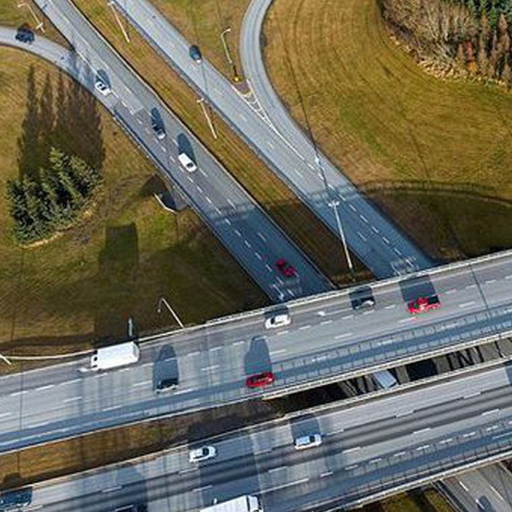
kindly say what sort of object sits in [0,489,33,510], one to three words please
car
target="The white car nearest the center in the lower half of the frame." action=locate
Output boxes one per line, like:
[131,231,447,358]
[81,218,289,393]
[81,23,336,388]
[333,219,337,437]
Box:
[264,312,292,328]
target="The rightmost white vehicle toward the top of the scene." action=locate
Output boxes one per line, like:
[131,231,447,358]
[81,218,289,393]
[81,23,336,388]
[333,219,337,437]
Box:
[177,152,195,169]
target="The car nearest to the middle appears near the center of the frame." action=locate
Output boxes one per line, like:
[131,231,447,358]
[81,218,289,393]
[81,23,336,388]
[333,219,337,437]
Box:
[276,259,296,278]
